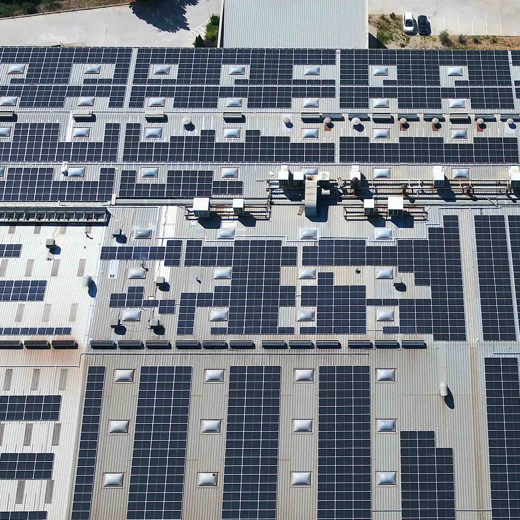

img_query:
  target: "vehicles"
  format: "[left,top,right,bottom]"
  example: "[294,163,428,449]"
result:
[402,13,416,36]
[416,15,430,37]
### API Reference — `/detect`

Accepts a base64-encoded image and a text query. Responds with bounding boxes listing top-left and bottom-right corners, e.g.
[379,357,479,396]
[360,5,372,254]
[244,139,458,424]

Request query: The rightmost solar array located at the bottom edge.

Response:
[484,356,520,520]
